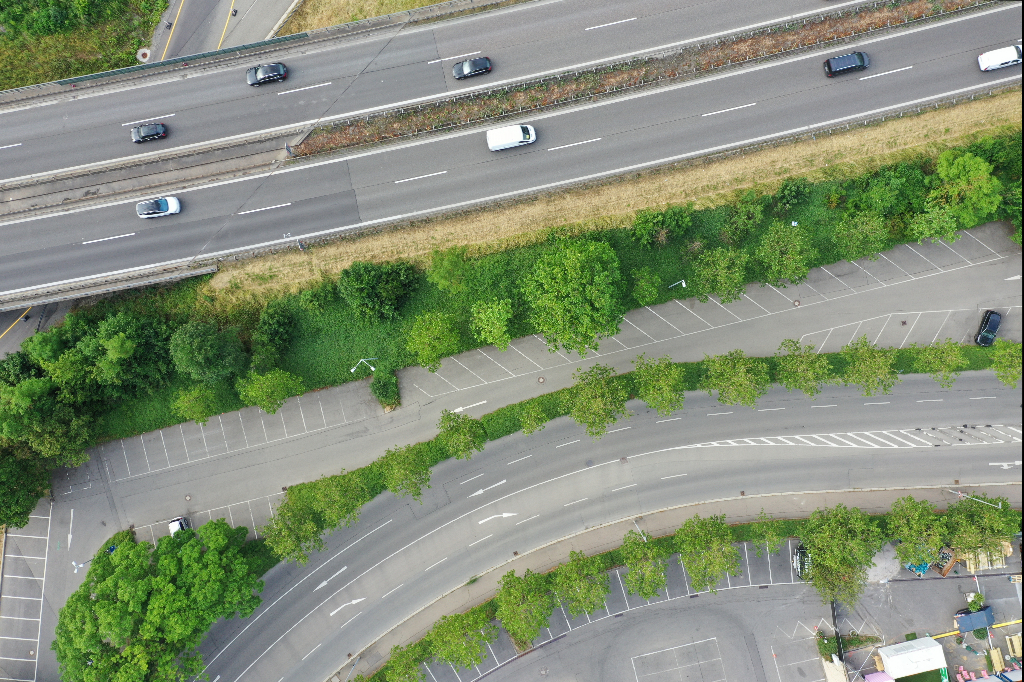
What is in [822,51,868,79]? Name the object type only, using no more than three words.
van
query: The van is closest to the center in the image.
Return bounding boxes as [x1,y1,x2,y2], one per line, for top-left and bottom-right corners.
[486,123,536,152]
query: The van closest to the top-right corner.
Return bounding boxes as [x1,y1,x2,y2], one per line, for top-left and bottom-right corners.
[977,43,1024,72]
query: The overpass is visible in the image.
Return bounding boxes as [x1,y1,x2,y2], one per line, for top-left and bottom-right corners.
[0,12,415,315]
